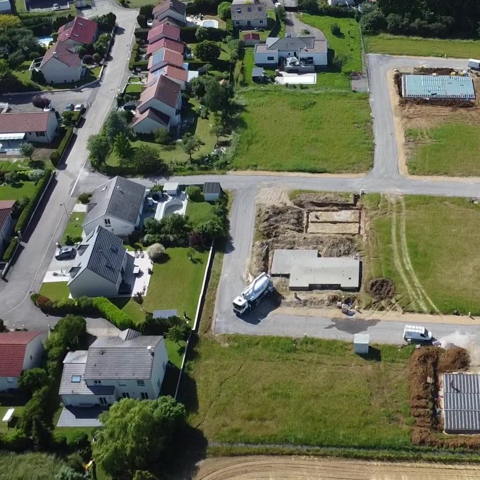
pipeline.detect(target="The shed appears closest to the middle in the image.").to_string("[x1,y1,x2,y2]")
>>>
[203,178,222,201]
